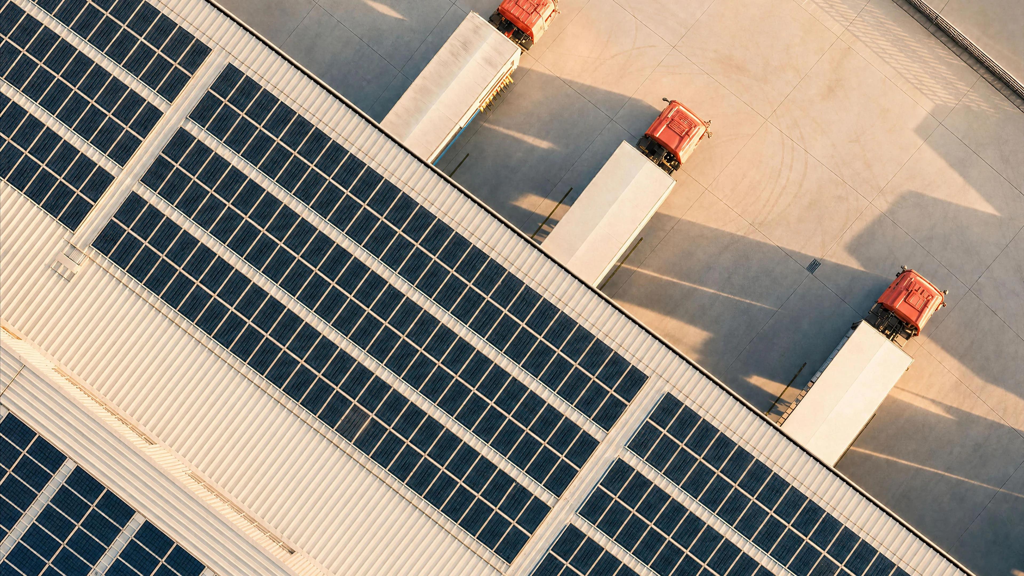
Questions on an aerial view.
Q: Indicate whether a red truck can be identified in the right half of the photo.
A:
Yes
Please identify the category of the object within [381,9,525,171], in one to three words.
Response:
trailer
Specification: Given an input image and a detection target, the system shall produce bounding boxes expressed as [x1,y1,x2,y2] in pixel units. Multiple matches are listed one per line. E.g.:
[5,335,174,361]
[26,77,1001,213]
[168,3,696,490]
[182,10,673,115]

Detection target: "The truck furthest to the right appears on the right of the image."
[859,259,955,353]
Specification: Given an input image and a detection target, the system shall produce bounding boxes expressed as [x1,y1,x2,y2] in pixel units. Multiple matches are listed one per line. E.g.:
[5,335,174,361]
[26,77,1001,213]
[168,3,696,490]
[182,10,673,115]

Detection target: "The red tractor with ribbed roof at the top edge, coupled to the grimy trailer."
[486,0,568,66]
